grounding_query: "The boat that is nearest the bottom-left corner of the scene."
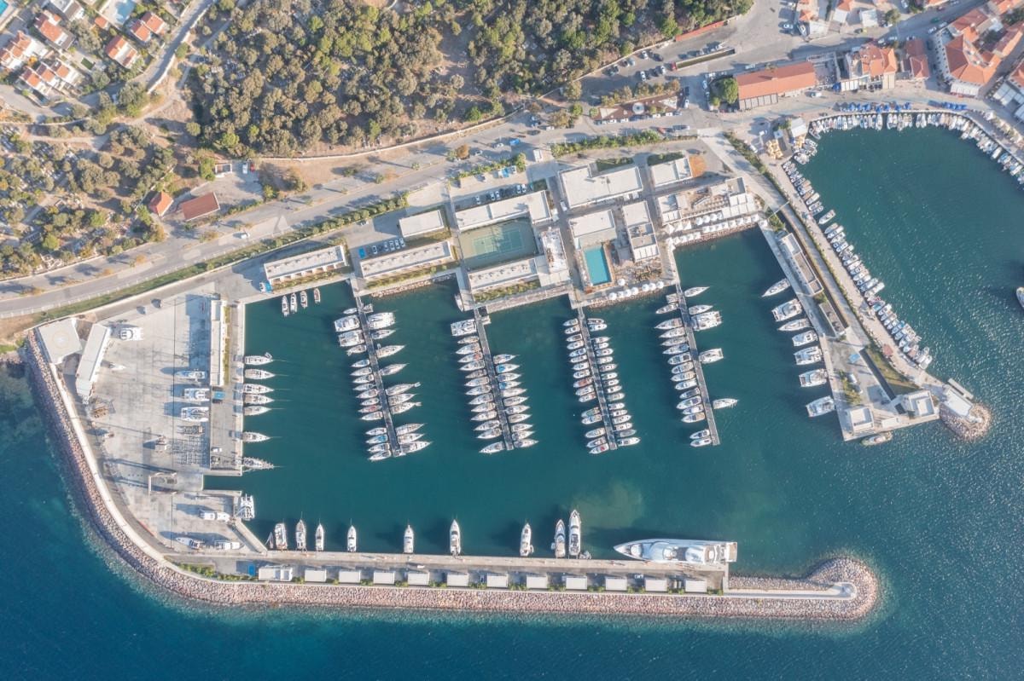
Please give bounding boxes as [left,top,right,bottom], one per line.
[168,537,205,553]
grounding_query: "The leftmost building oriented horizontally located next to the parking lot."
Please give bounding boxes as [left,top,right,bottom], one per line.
[264,246,349,283]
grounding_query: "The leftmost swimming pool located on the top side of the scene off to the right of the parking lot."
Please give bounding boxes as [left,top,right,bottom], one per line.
[579,241,616,289]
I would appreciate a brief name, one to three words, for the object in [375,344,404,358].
boat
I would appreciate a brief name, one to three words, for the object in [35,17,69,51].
house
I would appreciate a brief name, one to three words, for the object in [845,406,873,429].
building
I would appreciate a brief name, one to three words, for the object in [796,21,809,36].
vehicle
